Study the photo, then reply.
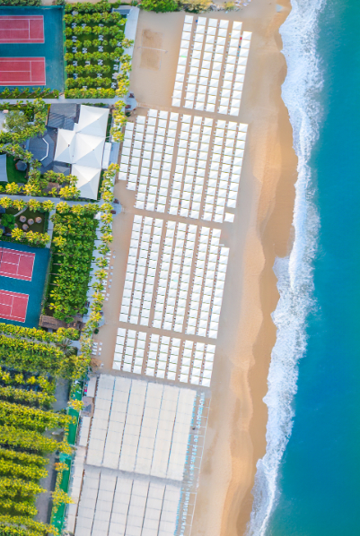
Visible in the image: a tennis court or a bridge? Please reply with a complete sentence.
Visible in the photo is a tennis court.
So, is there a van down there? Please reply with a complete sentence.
No, no van can be seen from above.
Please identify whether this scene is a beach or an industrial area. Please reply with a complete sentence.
This image shows a beach.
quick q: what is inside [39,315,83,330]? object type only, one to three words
shed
